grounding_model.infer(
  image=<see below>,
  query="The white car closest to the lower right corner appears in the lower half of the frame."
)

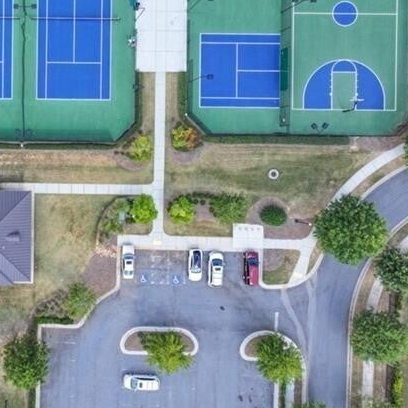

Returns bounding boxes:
[208,251,225,286]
